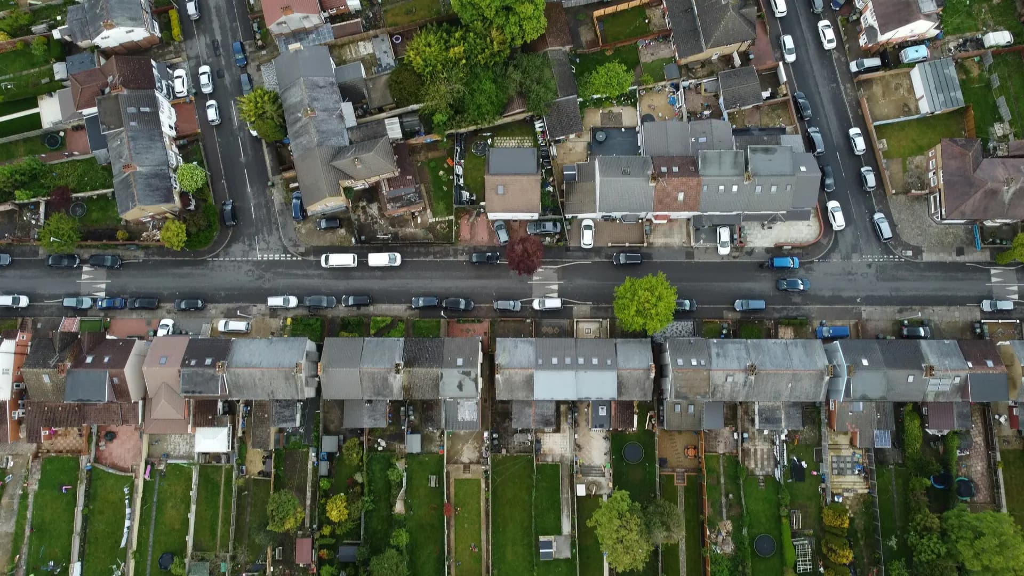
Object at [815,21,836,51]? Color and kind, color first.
white car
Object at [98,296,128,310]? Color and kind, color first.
blue car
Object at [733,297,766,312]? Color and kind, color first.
blue car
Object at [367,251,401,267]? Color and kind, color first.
white car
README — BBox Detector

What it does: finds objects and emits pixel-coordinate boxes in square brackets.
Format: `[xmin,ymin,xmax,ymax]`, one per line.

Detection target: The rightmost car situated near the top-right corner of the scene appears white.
[979,30,1012,49]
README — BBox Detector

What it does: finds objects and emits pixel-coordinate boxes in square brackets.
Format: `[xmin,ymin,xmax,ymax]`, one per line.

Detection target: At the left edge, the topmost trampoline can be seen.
[39,131,63,149]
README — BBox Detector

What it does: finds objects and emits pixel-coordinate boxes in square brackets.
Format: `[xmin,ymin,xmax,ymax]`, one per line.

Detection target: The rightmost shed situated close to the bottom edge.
[539,538,553,561]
